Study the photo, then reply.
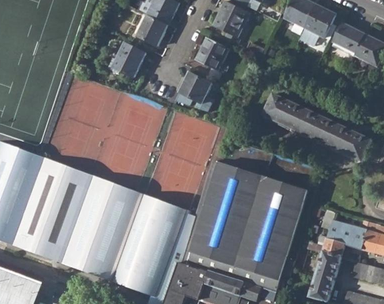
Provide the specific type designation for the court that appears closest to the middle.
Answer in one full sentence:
It looks like the court that appears closest to the middle is a tennis court.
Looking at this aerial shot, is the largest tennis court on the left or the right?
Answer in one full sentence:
The largest tennis court appears in the left half of the scene.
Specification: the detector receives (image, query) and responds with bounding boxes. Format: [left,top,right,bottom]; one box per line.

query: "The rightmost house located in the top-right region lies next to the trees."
[332,22,384,67]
